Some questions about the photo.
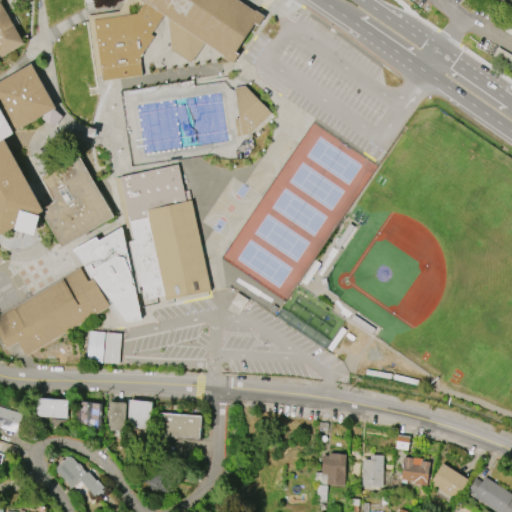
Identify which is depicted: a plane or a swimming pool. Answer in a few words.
swimming pool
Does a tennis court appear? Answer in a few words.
Yes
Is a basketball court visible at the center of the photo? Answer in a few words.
Yes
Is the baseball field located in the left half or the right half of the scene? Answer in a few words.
right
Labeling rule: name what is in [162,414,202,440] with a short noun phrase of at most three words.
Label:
house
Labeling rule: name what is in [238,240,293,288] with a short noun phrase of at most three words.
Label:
tennis court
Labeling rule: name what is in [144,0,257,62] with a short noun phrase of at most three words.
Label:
building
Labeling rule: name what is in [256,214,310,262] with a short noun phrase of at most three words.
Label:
tennis court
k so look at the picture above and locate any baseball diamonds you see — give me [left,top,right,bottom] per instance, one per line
[328,106,512,411]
